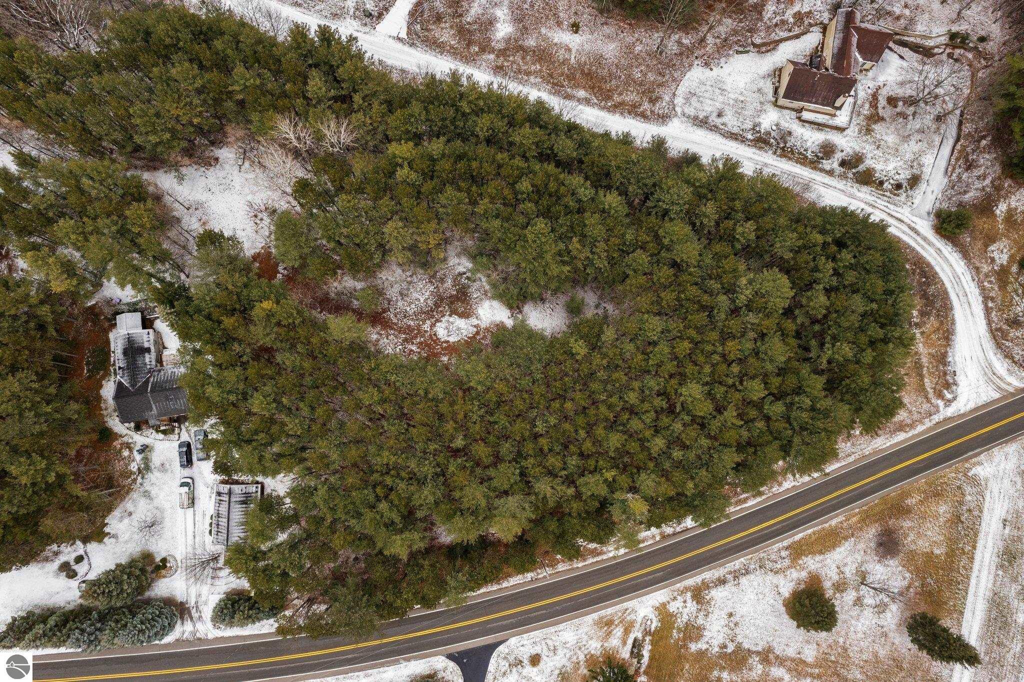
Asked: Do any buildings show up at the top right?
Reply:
Yes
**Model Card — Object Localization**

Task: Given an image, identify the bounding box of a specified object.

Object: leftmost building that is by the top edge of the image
[777,9,893,131]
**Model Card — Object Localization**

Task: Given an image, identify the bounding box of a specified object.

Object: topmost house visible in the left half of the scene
[113,313,198,431]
